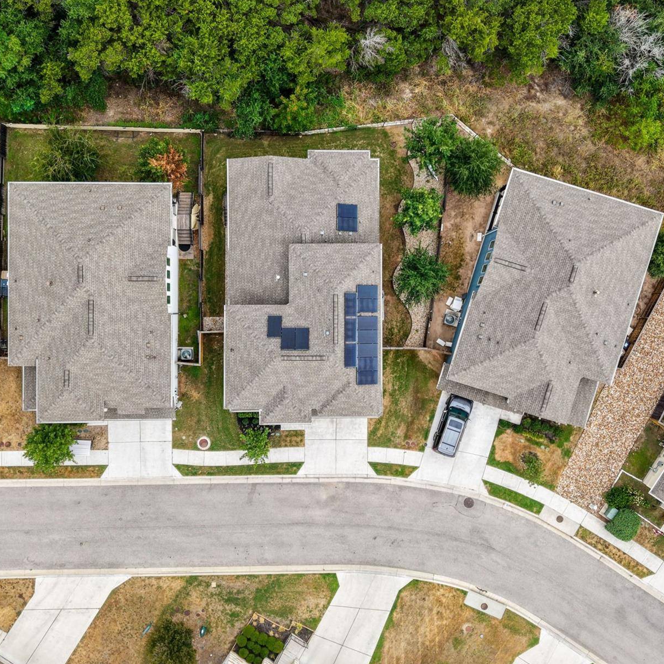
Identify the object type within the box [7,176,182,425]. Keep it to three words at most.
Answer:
house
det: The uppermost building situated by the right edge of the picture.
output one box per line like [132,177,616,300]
[436,168,663,428]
